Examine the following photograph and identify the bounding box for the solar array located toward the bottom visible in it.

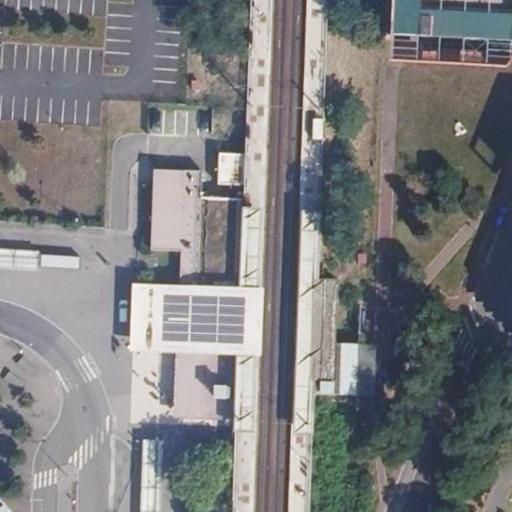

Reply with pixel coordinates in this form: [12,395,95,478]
[160,294,246,346]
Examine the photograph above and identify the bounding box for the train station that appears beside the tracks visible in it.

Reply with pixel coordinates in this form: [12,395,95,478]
[129,0,325,512]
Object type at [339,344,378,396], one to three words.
building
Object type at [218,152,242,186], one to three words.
building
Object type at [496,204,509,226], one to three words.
vehicle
